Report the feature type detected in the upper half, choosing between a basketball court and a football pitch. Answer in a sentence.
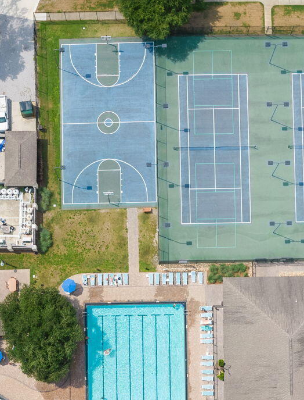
The one visible in the upper half is a basketball court.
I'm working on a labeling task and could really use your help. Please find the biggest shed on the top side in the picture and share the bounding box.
[5,130,38,190]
